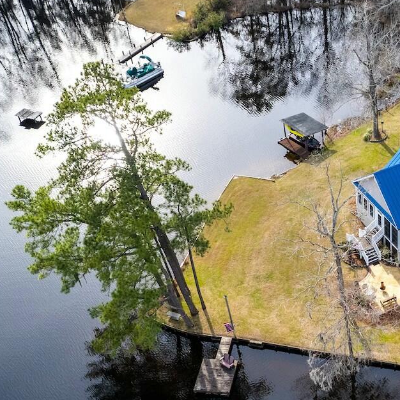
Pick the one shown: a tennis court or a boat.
boat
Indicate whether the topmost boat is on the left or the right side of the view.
left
